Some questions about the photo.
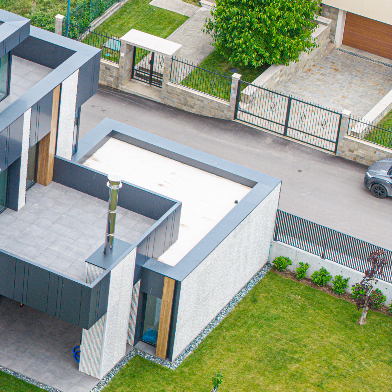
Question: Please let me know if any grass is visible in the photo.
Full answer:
Yes, grass can be seen from above here.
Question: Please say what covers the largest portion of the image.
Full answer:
The bulk of the photo consists of buildings.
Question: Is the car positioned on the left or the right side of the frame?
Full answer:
It is on the right.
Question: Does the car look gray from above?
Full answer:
Yes, the car appears gray.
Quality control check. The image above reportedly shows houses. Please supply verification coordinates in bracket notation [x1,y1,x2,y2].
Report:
[304,0,392,59]
[0,10,282,392]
